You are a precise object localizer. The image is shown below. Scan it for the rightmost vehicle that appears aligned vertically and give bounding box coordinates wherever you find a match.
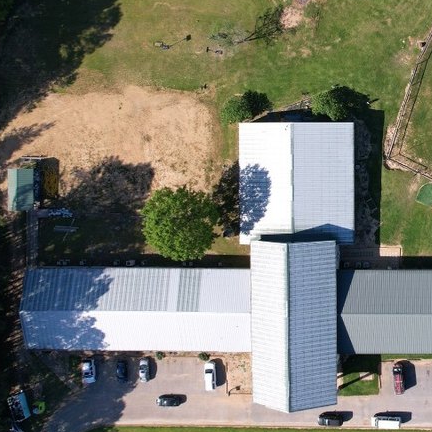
[393,363,407,397]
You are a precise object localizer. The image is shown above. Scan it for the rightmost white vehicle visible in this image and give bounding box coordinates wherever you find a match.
[372,415,403,431]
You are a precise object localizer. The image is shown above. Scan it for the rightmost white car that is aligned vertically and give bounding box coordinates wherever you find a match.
[202,363,217,396]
